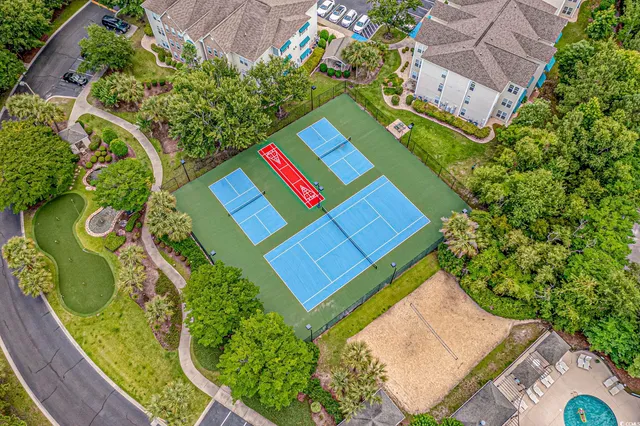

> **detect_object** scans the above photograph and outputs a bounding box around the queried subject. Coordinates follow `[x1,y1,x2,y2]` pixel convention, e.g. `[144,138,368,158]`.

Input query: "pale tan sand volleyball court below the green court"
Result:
[345,269,544,414]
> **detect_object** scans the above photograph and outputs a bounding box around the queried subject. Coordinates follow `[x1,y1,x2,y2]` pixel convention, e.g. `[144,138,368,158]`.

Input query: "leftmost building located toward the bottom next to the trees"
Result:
[342,386,404,426]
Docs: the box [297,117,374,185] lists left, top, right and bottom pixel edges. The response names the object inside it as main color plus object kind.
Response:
blue sports court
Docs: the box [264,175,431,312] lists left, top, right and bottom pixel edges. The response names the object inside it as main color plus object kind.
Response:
blue tennis court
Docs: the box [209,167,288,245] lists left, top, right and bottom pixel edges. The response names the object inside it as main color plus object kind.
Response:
blue sports court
